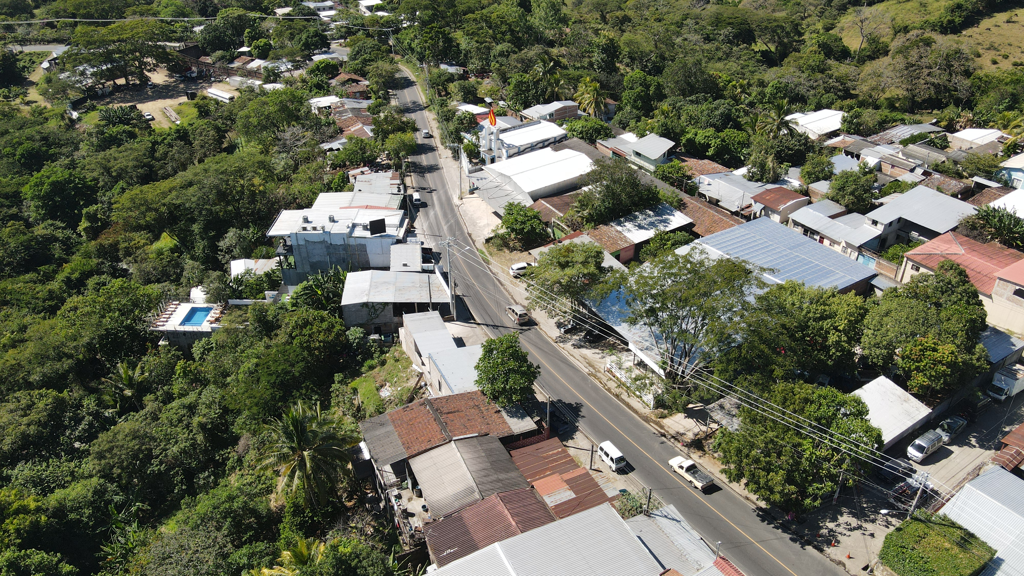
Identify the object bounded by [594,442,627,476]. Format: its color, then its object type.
white vehicle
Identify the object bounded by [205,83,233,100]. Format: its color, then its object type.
white vehicle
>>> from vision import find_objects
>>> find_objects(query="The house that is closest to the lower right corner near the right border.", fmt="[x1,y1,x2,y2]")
[937,466,1024,576]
